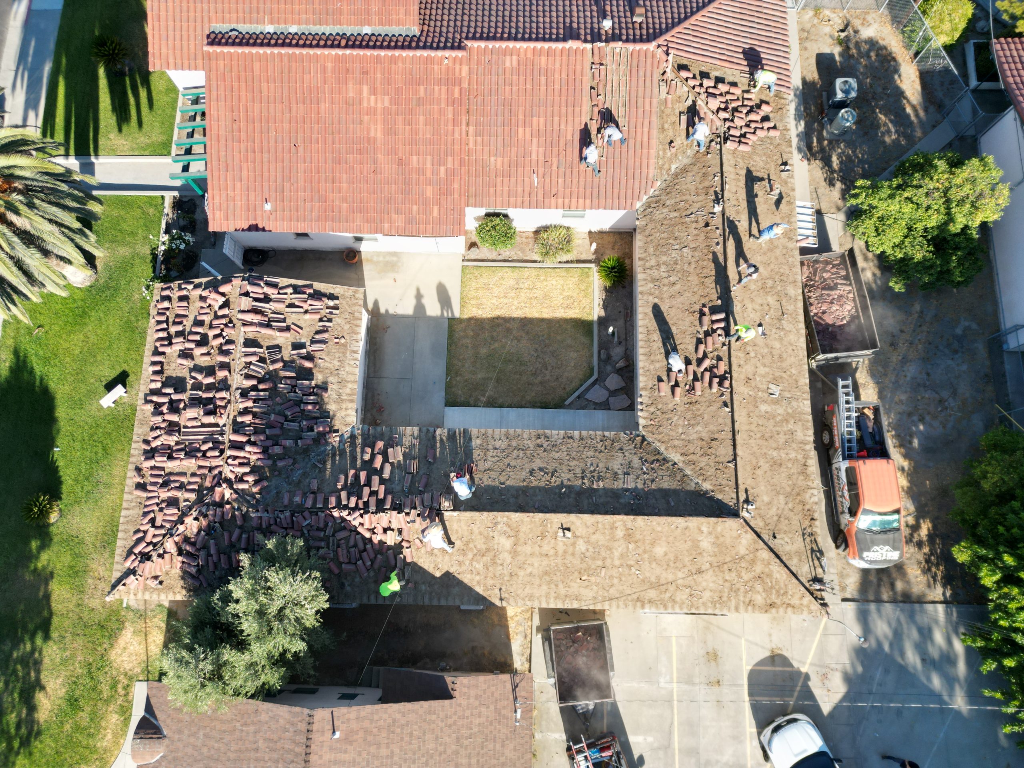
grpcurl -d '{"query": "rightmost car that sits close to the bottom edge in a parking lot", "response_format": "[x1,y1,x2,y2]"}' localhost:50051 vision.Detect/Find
[763,702,846,768]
